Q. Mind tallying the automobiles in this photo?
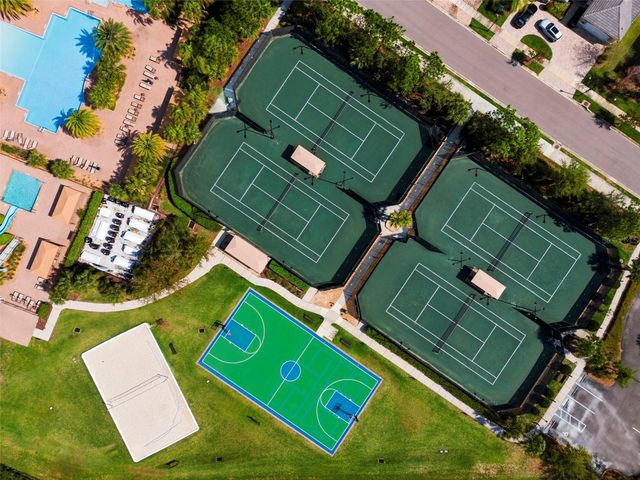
2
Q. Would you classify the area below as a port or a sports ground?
sports ground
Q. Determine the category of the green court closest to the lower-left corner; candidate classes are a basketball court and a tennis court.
basketball court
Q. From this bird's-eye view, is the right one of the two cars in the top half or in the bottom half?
top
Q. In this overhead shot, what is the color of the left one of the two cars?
black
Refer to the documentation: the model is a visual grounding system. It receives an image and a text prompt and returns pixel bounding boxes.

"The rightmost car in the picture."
[538,21,564,42]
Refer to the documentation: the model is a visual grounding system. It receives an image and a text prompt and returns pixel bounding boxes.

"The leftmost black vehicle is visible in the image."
[511,4,536,29]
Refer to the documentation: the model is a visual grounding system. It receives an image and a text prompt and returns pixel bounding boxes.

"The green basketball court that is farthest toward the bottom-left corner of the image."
[198,288,382,456]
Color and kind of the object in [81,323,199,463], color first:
white sports court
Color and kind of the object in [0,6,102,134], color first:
blue swimming pool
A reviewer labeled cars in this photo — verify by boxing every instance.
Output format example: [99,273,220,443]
[511,4,536,29]
[538,21,564,42]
